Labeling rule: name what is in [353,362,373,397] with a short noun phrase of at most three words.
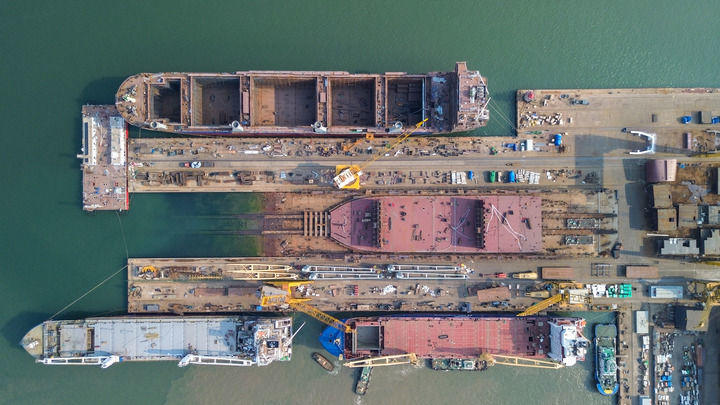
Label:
boat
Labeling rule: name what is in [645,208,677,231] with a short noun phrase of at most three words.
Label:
shed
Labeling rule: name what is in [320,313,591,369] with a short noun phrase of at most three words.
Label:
ship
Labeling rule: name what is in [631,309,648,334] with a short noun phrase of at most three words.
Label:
shed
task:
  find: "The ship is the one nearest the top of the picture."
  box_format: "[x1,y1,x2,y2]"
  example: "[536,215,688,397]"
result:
[115,61,491,136]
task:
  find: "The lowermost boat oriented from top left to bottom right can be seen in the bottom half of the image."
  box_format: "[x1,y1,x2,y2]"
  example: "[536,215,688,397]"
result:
[311,352,336,375]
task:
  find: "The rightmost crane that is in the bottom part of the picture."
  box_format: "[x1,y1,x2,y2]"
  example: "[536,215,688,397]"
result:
[677,281,720,326]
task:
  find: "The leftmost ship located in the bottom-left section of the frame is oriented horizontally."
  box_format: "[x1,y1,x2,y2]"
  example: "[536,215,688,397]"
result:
[19,312,306,370]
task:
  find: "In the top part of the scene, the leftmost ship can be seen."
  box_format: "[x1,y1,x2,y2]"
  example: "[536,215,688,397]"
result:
[77,102,134,212]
